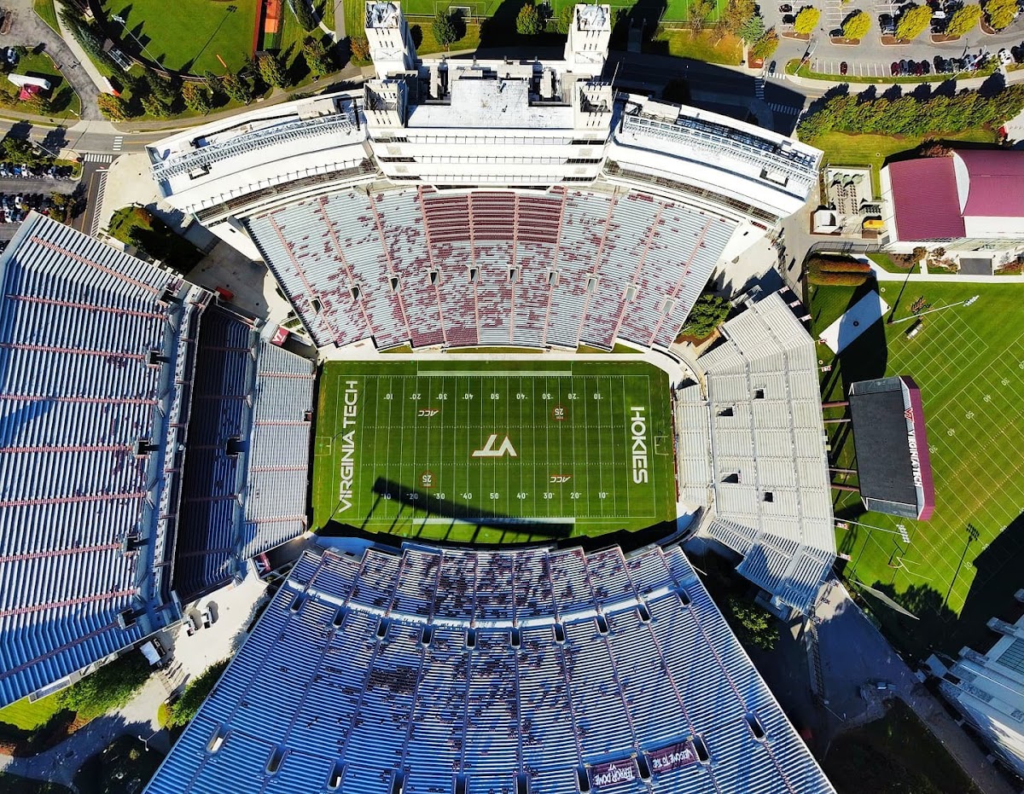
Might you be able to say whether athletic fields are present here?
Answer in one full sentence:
Yes, the frame does contain an athletic field.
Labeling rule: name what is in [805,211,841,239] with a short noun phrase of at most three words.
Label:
shed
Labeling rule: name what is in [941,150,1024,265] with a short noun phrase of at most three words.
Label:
building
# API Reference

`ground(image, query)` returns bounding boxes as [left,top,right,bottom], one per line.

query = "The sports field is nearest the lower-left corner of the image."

[312,359,677,555]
